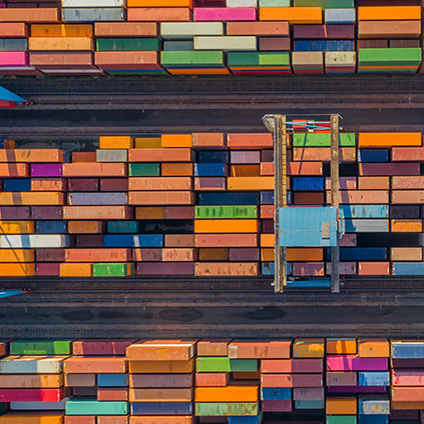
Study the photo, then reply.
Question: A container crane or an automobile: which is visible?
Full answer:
I can see a container crane in this picture.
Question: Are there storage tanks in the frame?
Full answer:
No, the picture doesn't show any storage tank.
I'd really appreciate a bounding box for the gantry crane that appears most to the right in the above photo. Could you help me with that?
[268,109,346,288]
